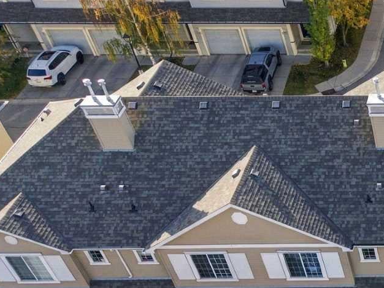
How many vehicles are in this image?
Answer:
2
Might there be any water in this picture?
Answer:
No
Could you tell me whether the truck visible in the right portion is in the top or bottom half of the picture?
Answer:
top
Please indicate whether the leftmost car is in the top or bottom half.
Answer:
top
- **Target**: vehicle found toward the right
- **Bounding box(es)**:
[239,48,281,94]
